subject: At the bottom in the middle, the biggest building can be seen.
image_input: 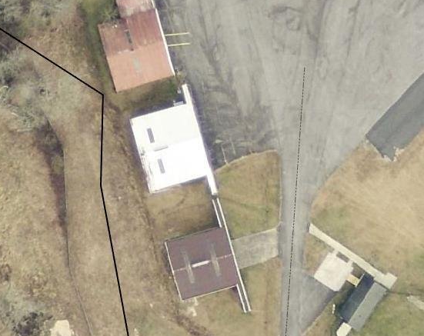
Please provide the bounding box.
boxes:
[165,198,246,312]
